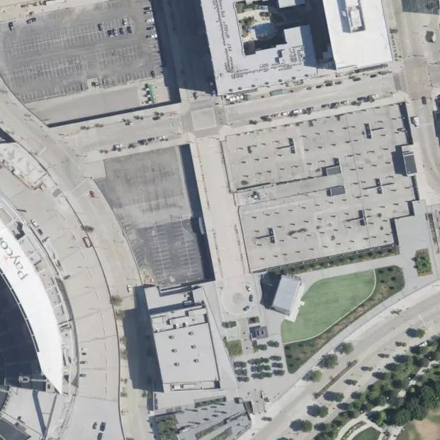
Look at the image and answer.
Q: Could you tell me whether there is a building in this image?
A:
Yes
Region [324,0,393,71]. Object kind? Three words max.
building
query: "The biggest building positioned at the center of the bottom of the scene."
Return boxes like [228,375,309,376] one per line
[146,285,221,397]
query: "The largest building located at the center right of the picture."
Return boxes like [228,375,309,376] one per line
[222,103,432,274]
